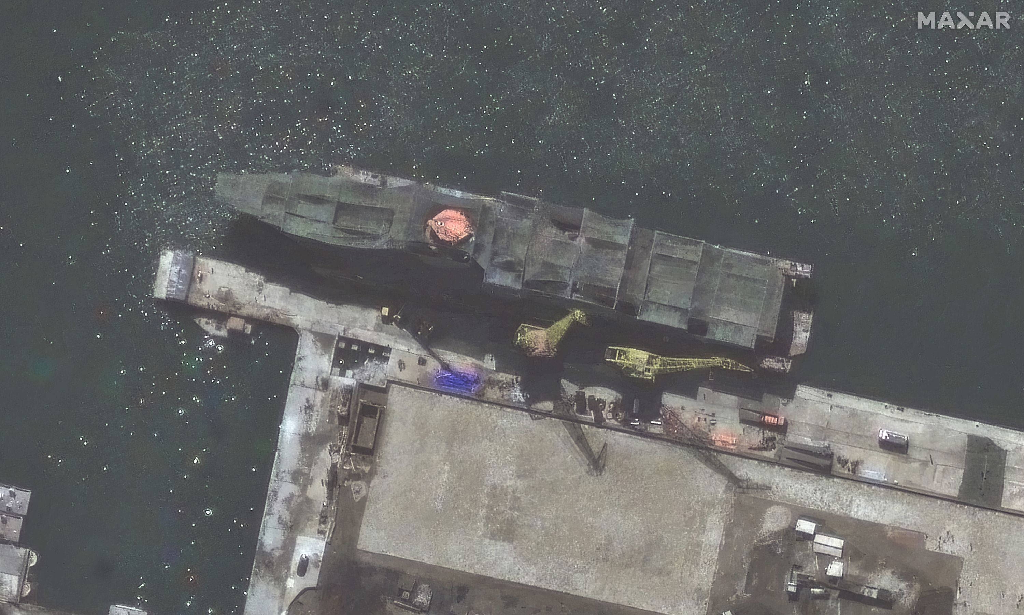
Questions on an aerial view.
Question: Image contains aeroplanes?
No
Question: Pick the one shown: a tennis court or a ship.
ship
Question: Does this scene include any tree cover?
No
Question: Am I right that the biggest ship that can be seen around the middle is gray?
Yes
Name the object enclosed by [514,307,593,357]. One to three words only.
crane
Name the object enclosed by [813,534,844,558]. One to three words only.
shed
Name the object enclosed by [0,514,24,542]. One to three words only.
ship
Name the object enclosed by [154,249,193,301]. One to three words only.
pier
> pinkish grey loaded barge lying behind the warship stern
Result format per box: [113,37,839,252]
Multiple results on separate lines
[789,310,813,356]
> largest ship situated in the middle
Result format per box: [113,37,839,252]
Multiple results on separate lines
[215,171,812,348]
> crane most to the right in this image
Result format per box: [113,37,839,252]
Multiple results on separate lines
[605,341,754,383]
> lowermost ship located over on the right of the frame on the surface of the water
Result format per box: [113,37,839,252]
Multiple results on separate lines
[760,355,792,372]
